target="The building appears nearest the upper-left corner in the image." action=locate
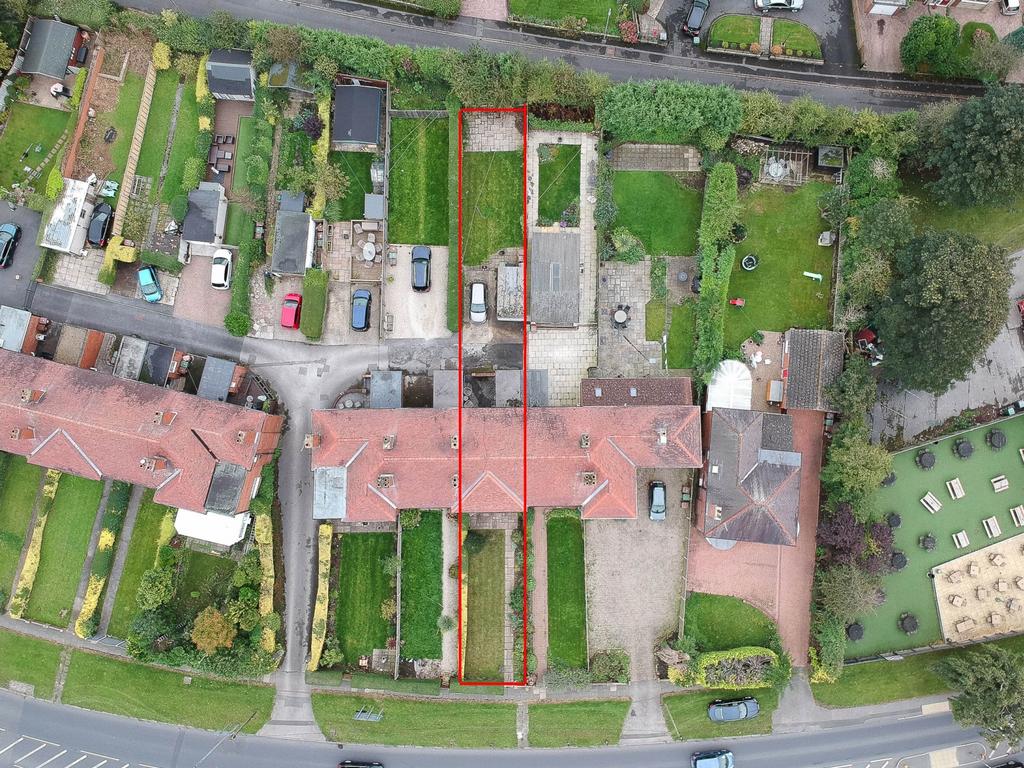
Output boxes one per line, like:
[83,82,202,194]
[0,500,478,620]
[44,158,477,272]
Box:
[21,17,84,80]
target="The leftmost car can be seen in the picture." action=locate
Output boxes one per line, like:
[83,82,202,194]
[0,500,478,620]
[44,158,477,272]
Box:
[0,224,24,269]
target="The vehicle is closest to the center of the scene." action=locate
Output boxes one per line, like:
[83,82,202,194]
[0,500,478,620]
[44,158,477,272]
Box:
[467,281,489,323]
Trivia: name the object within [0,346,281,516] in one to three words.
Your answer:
house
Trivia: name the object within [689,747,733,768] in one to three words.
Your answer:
car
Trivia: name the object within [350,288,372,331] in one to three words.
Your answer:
car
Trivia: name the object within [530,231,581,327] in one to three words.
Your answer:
building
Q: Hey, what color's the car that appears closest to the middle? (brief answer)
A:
white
